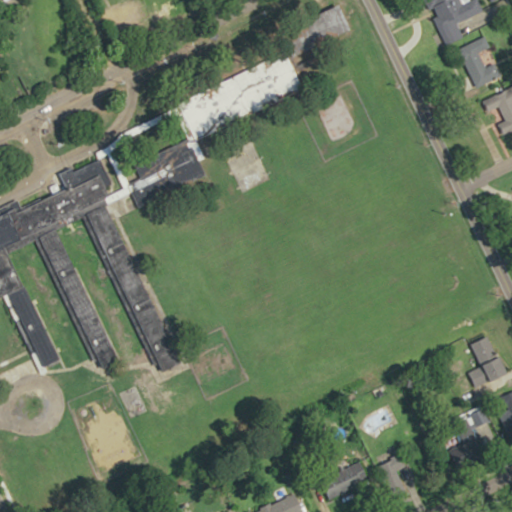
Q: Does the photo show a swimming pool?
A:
Yes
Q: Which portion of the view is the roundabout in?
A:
bottom left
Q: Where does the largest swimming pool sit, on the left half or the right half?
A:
right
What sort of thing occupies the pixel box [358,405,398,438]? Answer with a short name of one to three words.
swimming pool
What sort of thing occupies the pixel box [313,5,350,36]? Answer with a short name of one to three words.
building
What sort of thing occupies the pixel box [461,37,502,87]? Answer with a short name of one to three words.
house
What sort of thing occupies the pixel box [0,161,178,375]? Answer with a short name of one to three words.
building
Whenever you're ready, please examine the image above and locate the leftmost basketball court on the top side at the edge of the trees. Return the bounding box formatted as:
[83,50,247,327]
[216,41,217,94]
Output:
[228,142,270,192]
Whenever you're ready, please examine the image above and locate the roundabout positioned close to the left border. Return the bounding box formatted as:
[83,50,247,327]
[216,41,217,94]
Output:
[0,374,64,436]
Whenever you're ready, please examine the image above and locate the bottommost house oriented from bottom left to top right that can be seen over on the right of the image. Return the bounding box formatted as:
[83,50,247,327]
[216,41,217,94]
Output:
[326,462,366,500]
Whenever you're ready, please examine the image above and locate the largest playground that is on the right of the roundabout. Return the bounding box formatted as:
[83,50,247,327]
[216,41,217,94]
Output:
[68,383,148,470]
